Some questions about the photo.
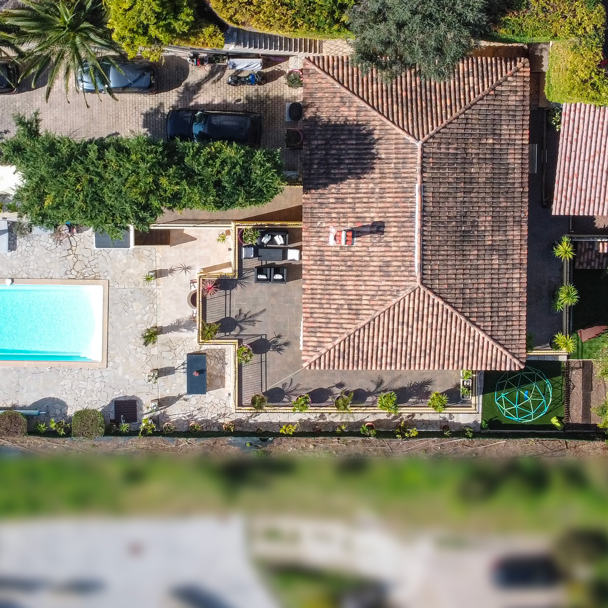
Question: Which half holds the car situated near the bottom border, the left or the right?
right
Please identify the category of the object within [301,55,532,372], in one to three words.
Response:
house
